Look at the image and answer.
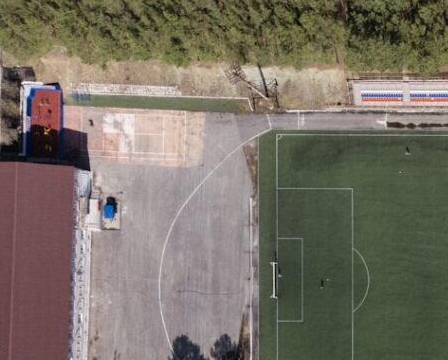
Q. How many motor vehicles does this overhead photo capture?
0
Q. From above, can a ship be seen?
No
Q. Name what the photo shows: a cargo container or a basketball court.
basketball court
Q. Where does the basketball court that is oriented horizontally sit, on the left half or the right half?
left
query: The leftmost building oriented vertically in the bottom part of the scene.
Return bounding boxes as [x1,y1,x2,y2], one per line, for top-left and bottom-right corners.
[0,160,93,360]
